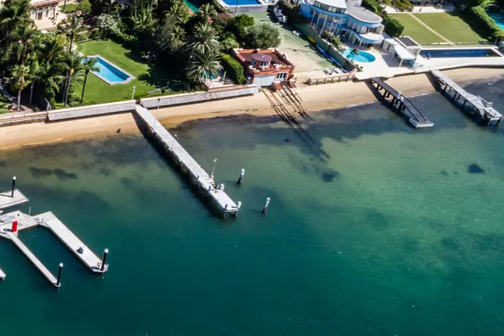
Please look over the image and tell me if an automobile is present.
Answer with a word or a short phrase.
No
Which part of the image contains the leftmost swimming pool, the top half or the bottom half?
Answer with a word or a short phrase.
top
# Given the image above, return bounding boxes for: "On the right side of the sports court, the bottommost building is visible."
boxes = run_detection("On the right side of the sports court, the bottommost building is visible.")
[378,37,422,73]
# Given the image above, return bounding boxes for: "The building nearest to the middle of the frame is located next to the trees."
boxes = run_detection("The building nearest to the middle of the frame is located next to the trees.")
[226,49,301,97]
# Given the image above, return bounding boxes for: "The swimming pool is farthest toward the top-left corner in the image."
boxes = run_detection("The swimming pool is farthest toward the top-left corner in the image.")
[77,56,137,85]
